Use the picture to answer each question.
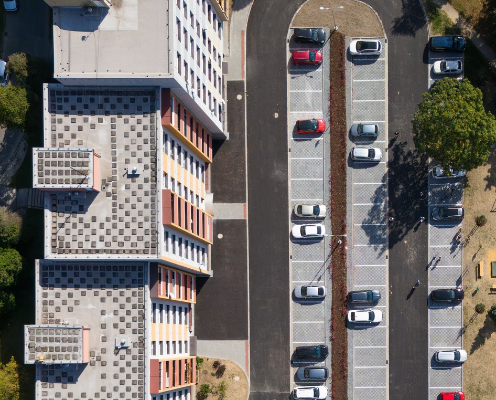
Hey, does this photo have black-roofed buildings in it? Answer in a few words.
No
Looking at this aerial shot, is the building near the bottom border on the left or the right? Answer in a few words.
left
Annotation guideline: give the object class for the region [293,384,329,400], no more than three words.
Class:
car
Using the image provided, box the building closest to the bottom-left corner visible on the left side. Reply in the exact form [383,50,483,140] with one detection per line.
[24,261,201,400]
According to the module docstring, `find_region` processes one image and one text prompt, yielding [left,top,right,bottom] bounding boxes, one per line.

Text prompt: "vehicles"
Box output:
[350,145,383,163]
[347,288,382,306]
[430,286,465,303]
[433,346,469,365]
[295,117,326,134]
[432,57,463,76]
[431,204,466,222]
[297,364,329,382]
[0,58,9,83]
[438,390,466,400]
[350,121,380,139]
[294,343,330,361]
[2,0,20,13]
[290,223,326,240]
[290,47,323,67]
[293,25,327,45]
[293,384,329,400]
[349,37,383,57]
[347,308,384,325]
[293,282,328,300]
[294,202,328,219]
